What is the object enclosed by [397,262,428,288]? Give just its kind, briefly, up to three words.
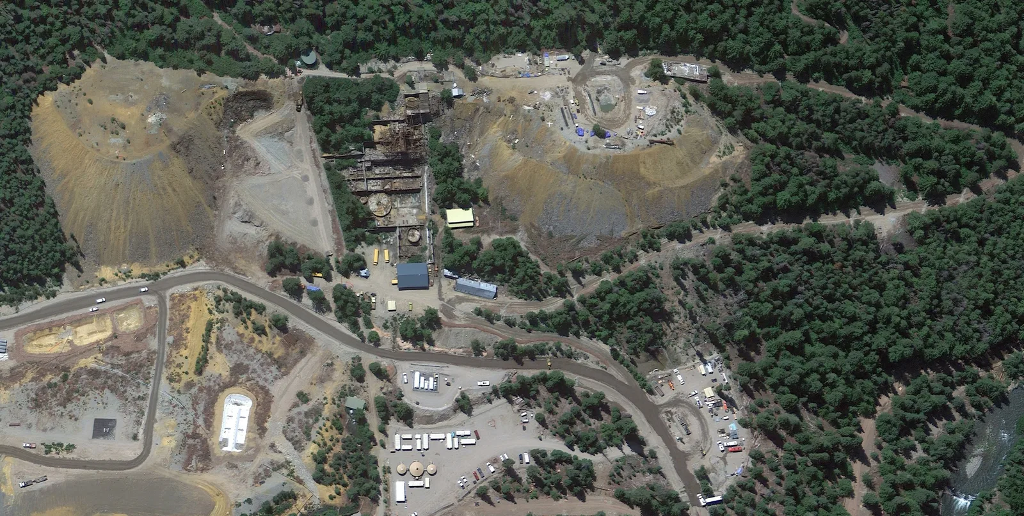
building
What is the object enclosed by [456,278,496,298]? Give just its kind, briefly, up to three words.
shed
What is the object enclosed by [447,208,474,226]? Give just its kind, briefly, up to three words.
shed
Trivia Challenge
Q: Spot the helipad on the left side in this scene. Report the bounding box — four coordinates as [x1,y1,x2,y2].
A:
[93,419,117,440]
